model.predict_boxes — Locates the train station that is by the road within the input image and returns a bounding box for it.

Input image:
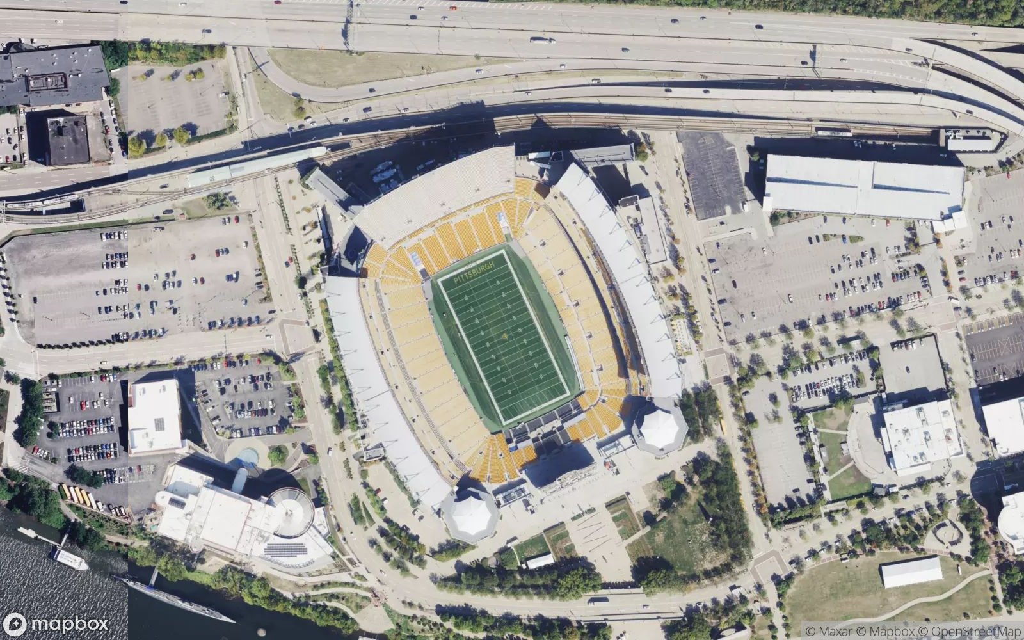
[86,147,328,209]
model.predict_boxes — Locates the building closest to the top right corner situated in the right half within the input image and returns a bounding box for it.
[947,139,992,151]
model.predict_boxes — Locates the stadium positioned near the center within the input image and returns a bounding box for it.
[300,145,689,543]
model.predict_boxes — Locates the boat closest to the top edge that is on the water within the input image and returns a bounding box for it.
[48,546,88,570]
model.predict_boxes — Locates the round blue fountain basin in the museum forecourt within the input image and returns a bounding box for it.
[234,445,257,468]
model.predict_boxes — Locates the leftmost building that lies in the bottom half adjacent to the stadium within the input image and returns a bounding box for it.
[155,465,334,571]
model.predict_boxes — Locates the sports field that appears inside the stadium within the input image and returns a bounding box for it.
[422,240,583,433]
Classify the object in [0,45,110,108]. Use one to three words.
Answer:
building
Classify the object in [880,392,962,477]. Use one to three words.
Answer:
building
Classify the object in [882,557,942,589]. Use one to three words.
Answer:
tent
